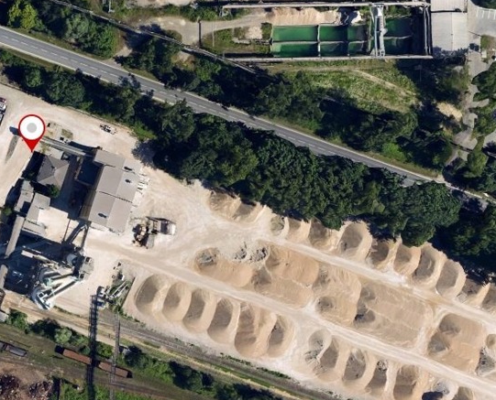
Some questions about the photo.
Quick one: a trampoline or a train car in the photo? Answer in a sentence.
There is a train car in the scene.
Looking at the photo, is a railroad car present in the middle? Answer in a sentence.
No, no railroad car is visible in the middle.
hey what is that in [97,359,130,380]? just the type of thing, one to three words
rail car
